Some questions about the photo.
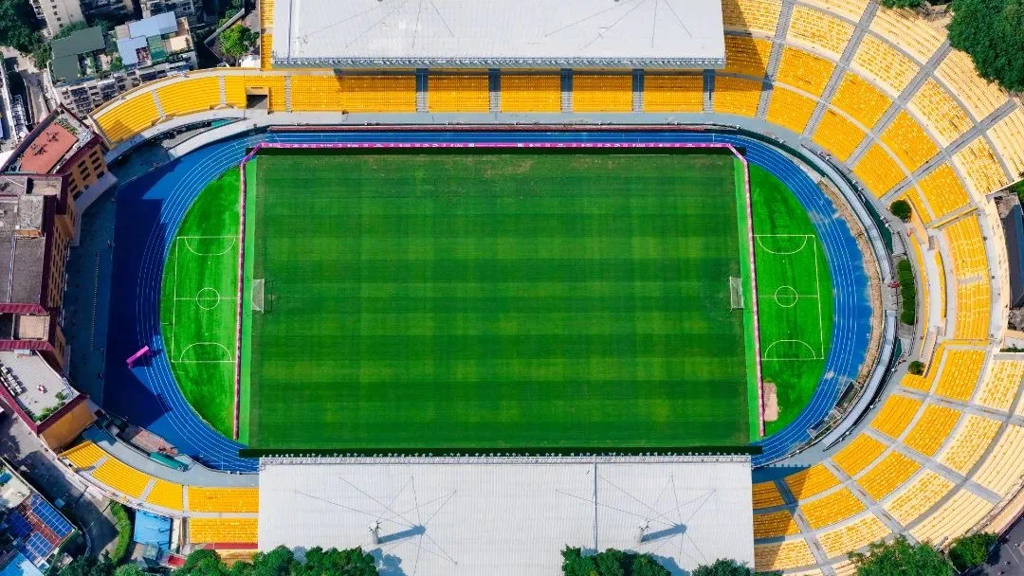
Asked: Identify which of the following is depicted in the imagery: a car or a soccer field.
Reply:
soccer field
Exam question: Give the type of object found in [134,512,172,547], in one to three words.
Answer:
shed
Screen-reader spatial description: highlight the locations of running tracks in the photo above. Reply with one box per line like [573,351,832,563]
[103,126,883,475]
